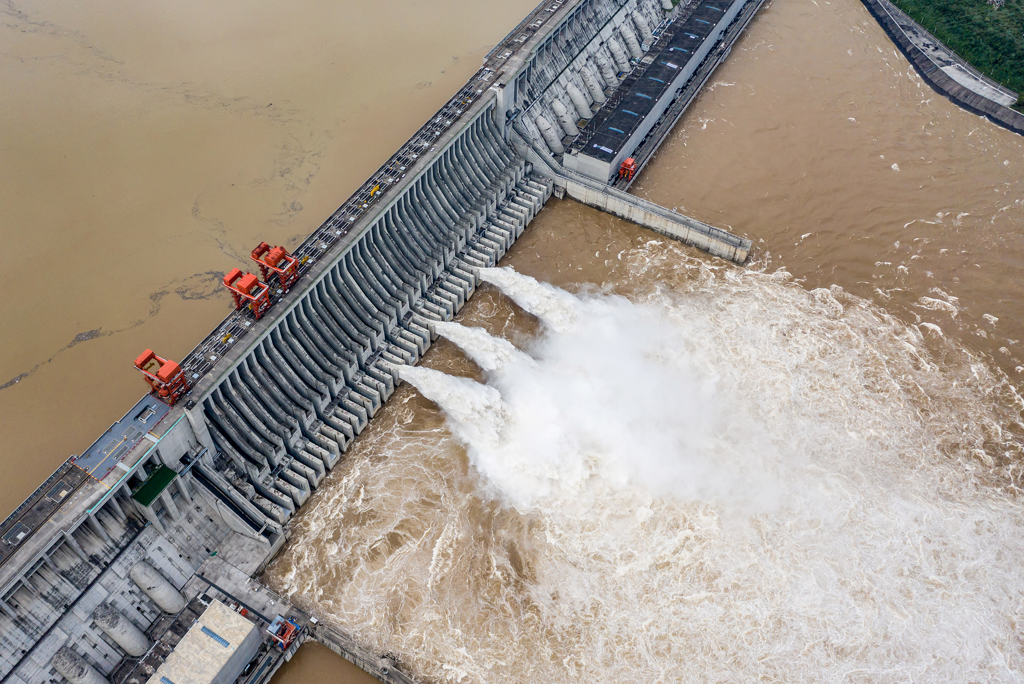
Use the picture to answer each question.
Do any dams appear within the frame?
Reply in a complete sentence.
Yes, the image includes a dam.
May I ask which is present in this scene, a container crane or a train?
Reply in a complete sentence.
The one in the frame is a container crane.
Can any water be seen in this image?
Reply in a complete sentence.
Yes, the picture does contain water.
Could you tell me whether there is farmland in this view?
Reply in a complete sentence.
No, there is no farmland in the image.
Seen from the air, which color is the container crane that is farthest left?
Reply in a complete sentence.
From above, the container crane that is farthest left appears red.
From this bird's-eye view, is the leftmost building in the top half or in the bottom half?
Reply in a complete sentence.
It is in the bottom half that the leftmost building appears.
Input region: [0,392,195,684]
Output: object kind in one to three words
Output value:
dam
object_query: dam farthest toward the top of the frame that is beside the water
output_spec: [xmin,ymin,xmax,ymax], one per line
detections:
[462,0,688,153]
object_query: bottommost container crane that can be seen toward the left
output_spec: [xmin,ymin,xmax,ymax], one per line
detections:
[265,616,306,654]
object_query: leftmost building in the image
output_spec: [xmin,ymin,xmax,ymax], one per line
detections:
[125,593,263,684]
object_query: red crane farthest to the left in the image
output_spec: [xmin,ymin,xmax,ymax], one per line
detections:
[130,349,189,407]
